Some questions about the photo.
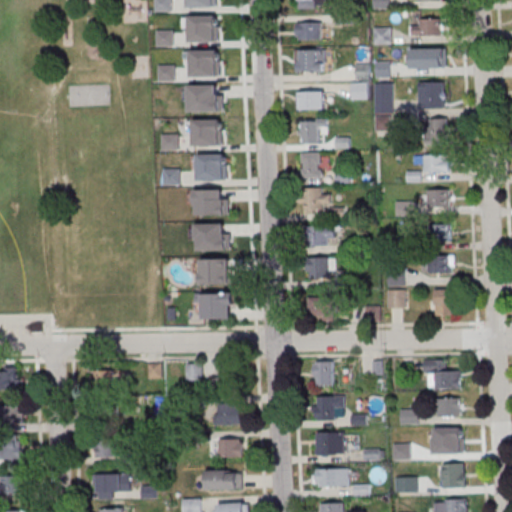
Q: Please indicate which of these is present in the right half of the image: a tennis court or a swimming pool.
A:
swimming pool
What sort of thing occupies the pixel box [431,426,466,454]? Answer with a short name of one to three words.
house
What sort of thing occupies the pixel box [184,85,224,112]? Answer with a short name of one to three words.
house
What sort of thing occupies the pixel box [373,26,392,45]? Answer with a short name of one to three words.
building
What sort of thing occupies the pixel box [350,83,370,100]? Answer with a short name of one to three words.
building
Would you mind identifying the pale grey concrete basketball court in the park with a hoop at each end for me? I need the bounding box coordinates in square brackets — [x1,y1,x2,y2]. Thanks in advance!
[67,85,110,108]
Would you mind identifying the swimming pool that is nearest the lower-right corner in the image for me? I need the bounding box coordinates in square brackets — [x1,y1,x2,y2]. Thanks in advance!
[368,466,388,486]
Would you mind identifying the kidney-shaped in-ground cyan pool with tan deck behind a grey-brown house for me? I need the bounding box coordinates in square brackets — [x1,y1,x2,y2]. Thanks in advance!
[168,259,196,288]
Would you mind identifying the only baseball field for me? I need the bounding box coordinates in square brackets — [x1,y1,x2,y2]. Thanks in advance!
[0,213,27,312]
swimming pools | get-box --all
[391,48,402,60]
[368,398,384,414]
[356,46,368,60]
[390,12,402,26]
[368,466,388,486]
[168,259,196,288]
